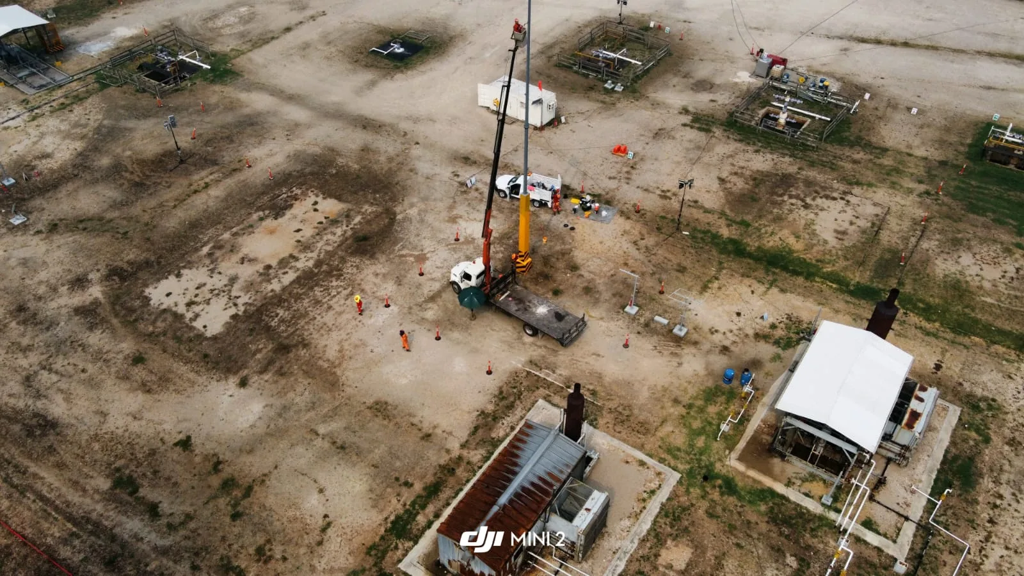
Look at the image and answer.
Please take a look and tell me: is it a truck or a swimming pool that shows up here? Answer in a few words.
truck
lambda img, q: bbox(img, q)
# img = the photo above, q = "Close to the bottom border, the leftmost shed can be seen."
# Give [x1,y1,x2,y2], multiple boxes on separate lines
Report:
[437,418,592,576]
